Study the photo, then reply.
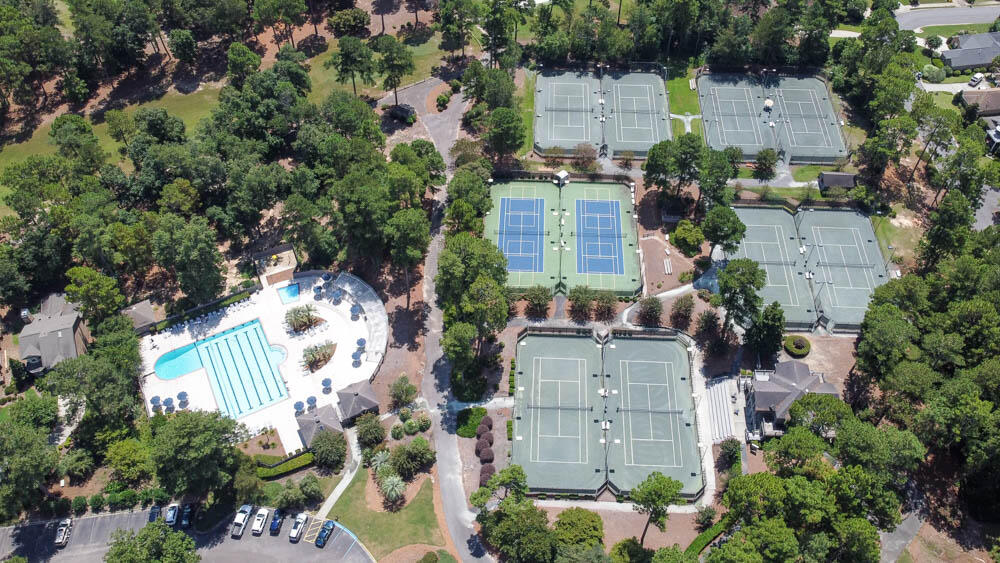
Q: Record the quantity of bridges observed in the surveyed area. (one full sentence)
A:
There are no bridges in the image.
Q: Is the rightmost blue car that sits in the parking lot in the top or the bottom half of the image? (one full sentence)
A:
The bottom half of the photo is where the rightmost blue car that sits in the parking lot is.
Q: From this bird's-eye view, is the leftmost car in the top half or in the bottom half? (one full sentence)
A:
The bottom half of the photo is where the leftmost car is.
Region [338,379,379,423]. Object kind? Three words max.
building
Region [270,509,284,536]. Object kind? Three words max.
car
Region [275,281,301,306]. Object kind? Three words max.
swimming pool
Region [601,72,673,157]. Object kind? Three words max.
tennis court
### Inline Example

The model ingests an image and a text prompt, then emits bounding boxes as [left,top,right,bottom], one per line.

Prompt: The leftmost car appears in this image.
[51,518,74,545]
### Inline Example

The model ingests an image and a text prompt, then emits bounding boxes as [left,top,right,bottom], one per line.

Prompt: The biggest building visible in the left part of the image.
[15,287,98,385]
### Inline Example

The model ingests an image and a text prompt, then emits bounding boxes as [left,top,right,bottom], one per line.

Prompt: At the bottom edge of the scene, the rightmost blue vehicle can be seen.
[315,520,335,547]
